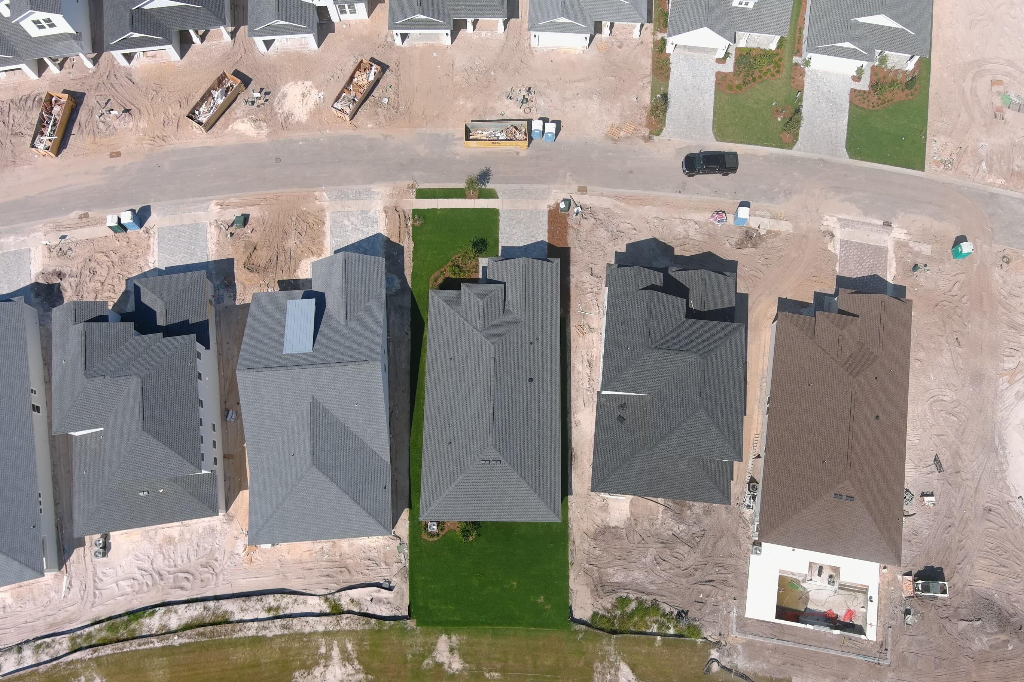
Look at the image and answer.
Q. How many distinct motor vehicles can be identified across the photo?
2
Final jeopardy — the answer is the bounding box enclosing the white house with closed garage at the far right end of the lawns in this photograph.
[801,0,932,75]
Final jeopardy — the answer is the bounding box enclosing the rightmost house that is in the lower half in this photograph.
[752,287,914,568]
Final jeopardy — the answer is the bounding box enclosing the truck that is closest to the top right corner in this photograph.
[680,152,739,178]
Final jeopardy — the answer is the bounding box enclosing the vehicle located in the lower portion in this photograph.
[903,577,956,603]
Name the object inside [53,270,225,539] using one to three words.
house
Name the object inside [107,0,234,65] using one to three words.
house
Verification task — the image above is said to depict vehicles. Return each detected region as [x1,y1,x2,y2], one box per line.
[680,152,739,178]
[903,577,956,603]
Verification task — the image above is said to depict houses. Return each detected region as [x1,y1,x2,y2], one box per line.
[0,0,94,84]
[0,296,60,587]
[248,0,369,53]
[666,0,793,57]
[53,270,225,539]
[388,0,507,45]
[528,0,647,49]
[419,258,562,523]
[590,259,745,506]
[107,0,234,65]
[752,287,914,568]
[801,0,932,75]
[236,251,393,546]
